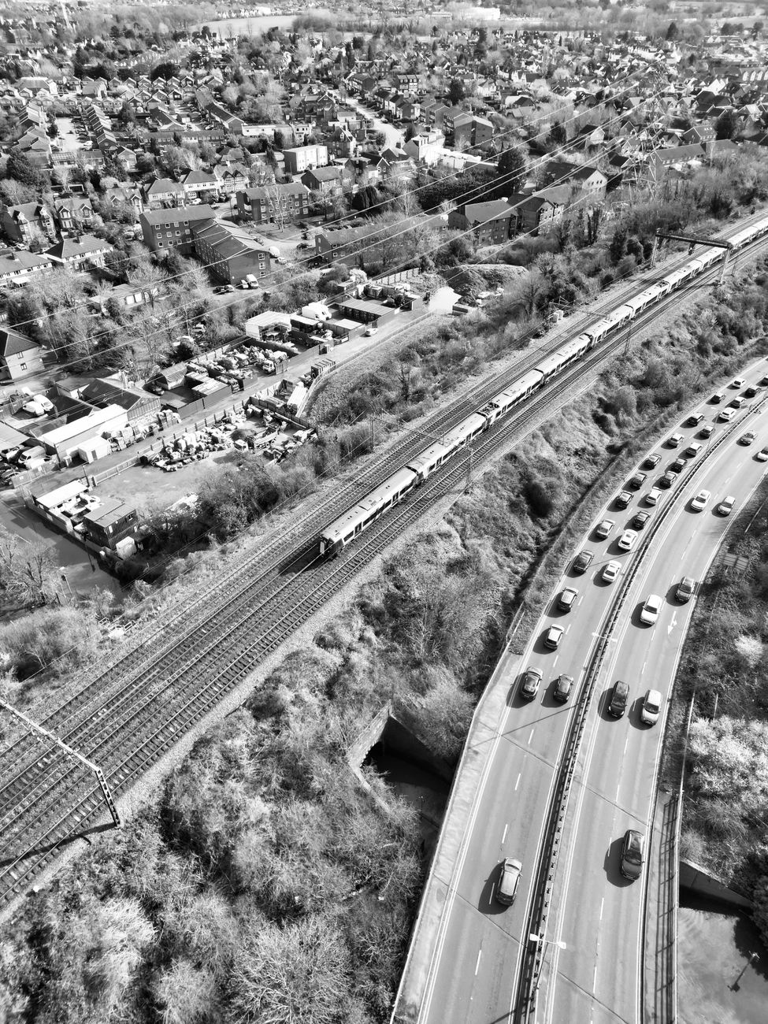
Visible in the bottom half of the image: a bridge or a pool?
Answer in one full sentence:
The feature located in the bottom half of the image is a bridge.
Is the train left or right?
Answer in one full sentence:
The train is on the right side of the image.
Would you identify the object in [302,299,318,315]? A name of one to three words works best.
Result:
vehicle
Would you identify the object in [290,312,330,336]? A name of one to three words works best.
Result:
shed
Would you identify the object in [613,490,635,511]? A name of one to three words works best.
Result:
car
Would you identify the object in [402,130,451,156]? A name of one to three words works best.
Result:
house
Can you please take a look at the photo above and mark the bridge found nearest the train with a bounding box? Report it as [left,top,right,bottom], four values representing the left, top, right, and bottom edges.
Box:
[317,689,392,767]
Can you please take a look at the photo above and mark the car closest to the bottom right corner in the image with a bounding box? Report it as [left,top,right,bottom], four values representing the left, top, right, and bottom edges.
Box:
[618,827,645,883]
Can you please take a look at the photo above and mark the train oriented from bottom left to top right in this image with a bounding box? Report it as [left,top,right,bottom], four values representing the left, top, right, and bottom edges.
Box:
[325,218,768,556]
